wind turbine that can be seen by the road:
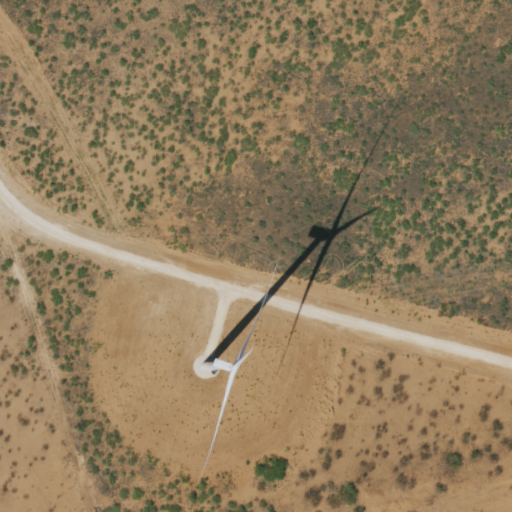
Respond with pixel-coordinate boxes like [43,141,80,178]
[200,266,278,478]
